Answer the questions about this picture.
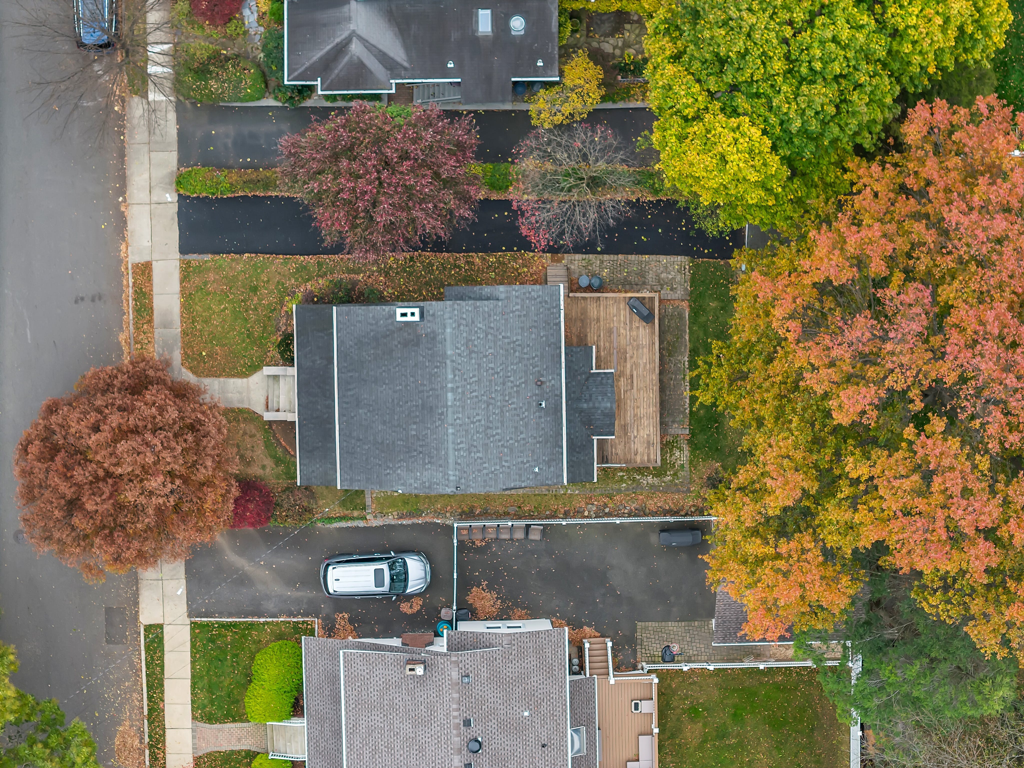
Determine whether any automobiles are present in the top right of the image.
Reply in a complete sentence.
No, no automobile can be made out in the top right of the image.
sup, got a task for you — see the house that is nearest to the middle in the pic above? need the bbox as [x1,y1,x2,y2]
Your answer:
[293,284,616,495]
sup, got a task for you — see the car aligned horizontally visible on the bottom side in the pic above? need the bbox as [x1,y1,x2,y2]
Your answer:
[321,550,432,602]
